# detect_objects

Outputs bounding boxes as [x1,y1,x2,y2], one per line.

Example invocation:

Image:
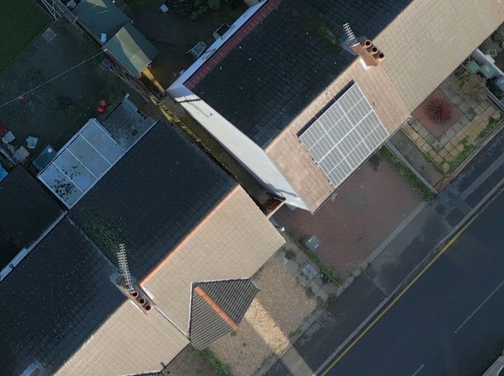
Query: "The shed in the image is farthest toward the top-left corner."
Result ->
[72,0,130,43]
